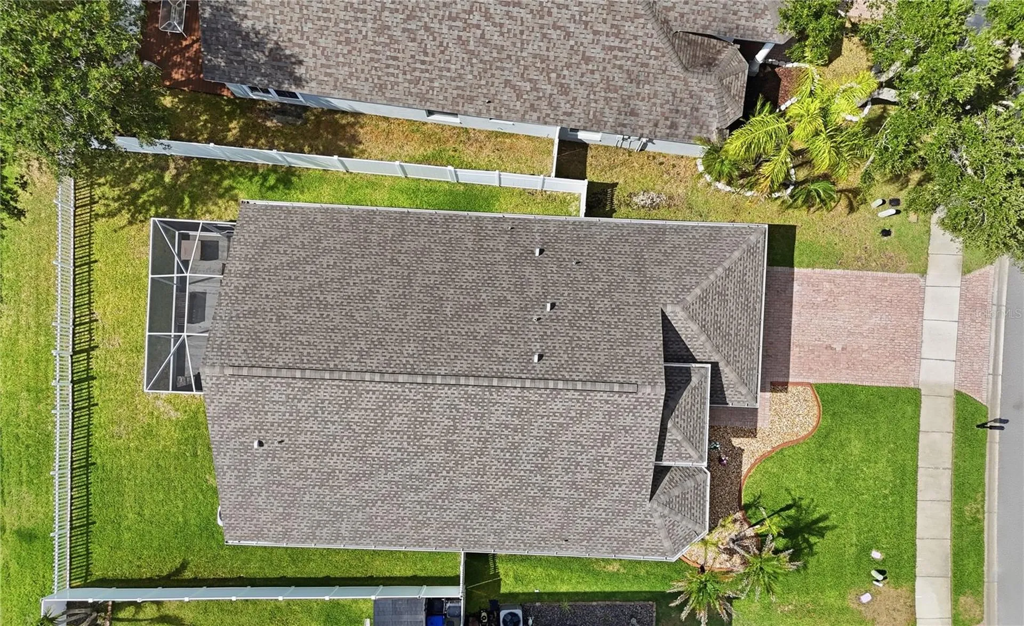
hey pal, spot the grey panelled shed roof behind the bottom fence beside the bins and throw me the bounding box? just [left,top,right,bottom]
[375,597,427,626]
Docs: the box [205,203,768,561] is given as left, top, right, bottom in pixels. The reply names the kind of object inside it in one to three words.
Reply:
house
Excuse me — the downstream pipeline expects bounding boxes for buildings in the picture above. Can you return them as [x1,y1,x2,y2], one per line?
[205,203,768,561]
[375,597,427,626]
[201,0,793,158]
